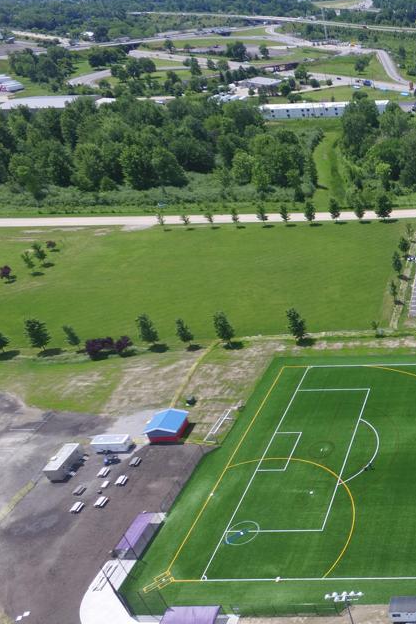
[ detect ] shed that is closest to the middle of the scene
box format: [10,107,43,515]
[140,405,190,443]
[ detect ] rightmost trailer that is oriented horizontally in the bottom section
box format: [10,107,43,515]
[90,434,134,454]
